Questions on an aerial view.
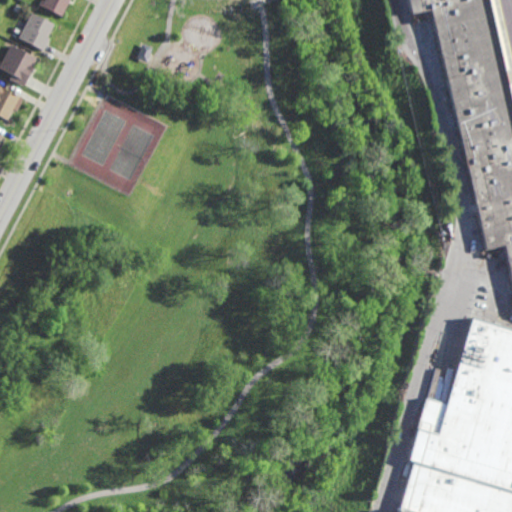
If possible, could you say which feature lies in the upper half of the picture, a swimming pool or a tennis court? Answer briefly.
tennis court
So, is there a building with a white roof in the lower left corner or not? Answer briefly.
No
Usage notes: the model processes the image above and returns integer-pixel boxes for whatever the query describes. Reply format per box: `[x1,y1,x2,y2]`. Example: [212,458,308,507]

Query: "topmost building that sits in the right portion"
[406,0,512,296]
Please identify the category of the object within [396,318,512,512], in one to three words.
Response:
warehouse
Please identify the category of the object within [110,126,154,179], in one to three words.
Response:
tennis court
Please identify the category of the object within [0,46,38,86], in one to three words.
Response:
house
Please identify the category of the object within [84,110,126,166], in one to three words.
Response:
tennis court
